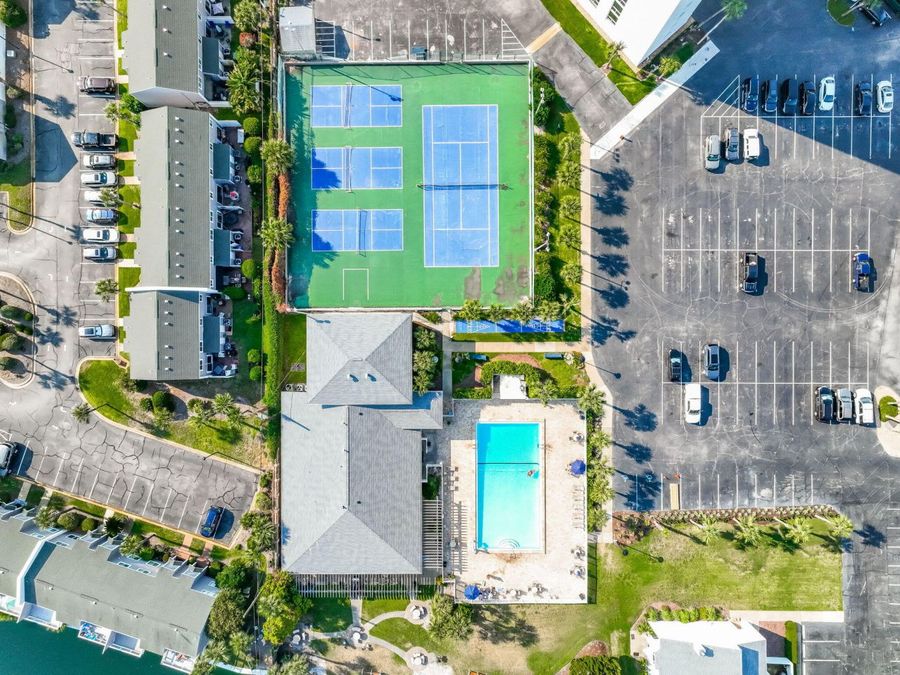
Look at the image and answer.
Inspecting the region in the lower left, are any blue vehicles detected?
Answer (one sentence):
Yes, the scene does show a blue vehicle in the lower left.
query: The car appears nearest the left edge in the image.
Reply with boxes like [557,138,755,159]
[0,440,20,476]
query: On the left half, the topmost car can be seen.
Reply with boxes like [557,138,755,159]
[80,76,117,94]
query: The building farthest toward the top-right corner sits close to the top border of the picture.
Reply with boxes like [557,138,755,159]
[572,0,699,69]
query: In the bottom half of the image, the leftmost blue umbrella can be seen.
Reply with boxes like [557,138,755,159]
[461,582,479,599]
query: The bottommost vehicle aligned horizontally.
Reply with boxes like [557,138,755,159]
[78,323,117,339]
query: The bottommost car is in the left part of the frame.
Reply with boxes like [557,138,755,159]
[200,503,224,539]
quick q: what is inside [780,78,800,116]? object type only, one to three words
vehicle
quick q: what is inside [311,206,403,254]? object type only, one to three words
sports court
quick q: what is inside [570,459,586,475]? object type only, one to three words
umbrella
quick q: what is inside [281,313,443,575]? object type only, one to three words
building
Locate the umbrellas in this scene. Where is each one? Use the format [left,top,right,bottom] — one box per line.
[209,0,225,15]
[570,459,586,475]
[230,190,243,200]
[219,209,238,229]
[461,582,479,599]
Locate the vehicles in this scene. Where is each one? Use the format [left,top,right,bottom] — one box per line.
[80,76,117,94]
[742,128,760,161]
[667,350,683,382]
[740,253,758,294]
[722,127,741,162]
[83,152,116,169]
[78,323,117,339]
[73,131,119,149]
[200,503,224,539]
[780,78,800,116]
[875,81,894,114]
[85,207,120,224]
[84,191,120,205]
[817,76,836,112]
[82,226,121,243]
[83,244,119,261]
[741,76,760,113]
[854,80,874,117]
[854,388,875,424]
[852,252,873,292]
[703,134,722,171]
[0,440,20,476]
[835,388,855,422]
[703,345,721,379]
[799,81,817,117]
[81,171,118,187]
[761,79,780,114]
[684,382,703,423]
[814,386,833,422]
